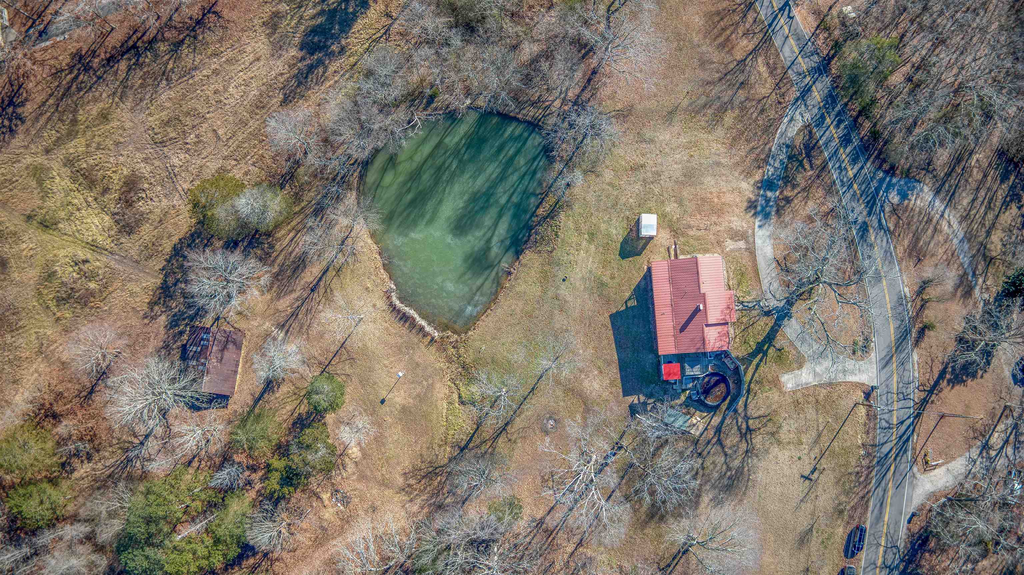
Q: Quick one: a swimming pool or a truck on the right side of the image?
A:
swimming pool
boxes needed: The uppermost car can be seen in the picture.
[850,524,869,553]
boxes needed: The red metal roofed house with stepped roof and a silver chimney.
[646,256,737,355]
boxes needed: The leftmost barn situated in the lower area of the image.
[182,325,251,395]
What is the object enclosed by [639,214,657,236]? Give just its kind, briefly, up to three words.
shed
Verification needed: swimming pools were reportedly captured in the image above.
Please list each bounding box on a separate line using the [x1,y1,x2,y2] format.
[697,371,732,405]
